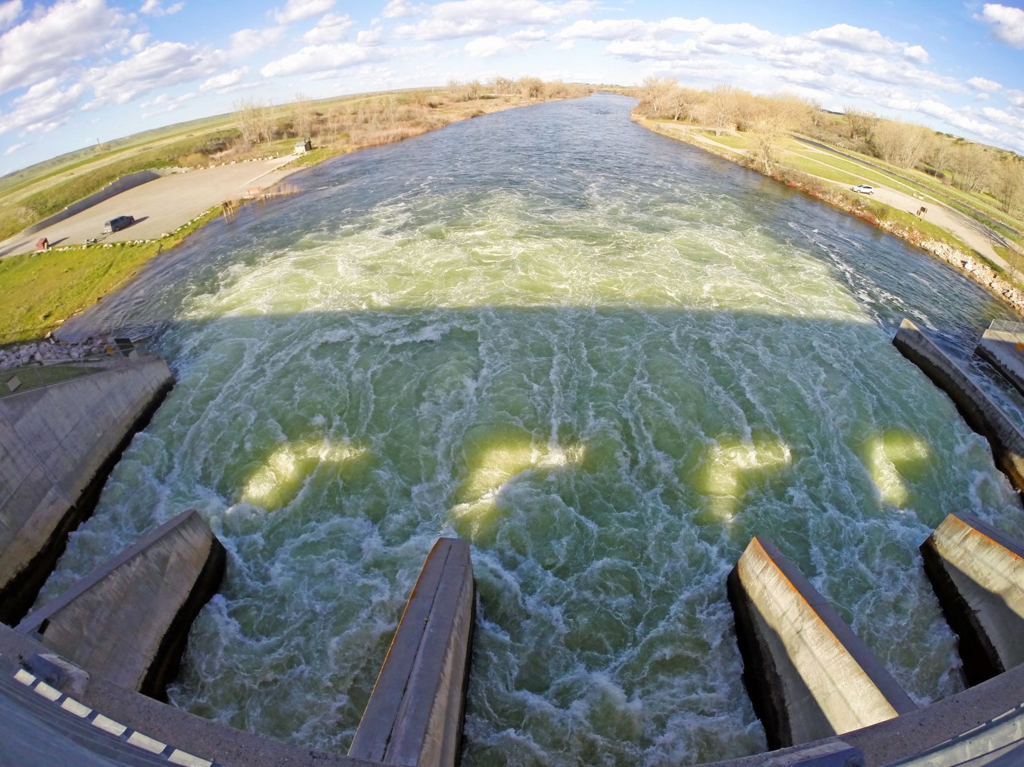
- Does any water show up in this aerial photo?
Yes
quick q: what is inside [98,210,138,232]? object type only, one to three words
truck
